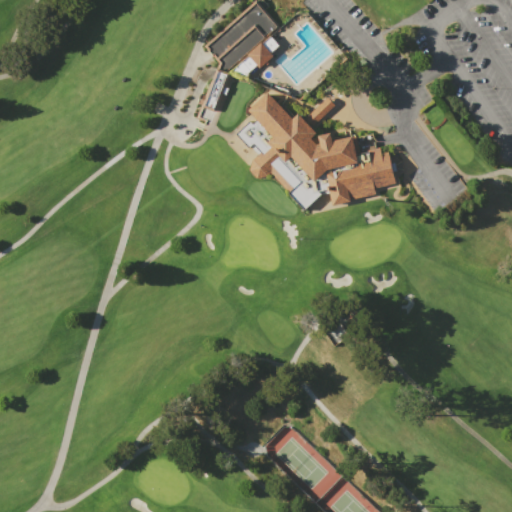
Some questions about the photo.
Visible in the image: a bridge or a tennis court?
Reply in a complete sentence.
Of the two, only a tennis court appears.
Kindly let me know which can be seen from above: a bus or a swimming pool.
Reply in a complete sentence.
I can see a swimming pool in this picture.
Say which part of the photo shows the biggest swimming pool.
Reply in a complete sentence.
The biggest swimming pool sits in the top section of the image.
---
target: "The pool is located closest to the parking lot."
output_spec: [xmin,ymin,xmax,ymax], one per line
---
[259,14,340,96]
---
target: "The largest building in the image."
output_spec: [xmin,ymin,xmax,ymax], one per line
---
[238,92,398,210]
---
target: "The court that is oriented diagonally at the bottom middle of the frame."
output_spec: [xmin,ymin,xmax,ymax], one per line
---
[264,424,341,502]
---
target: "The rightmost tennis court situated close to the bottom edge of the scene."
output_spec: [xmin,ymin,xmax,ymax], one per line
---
[318,478,376,512]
